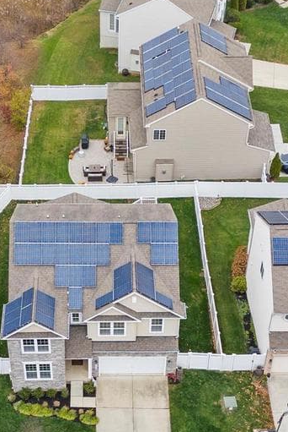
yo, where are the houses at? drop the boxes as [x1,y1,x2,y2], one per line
[107,20,277,184]
[249,195,288,374]
[0,184,185,390]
